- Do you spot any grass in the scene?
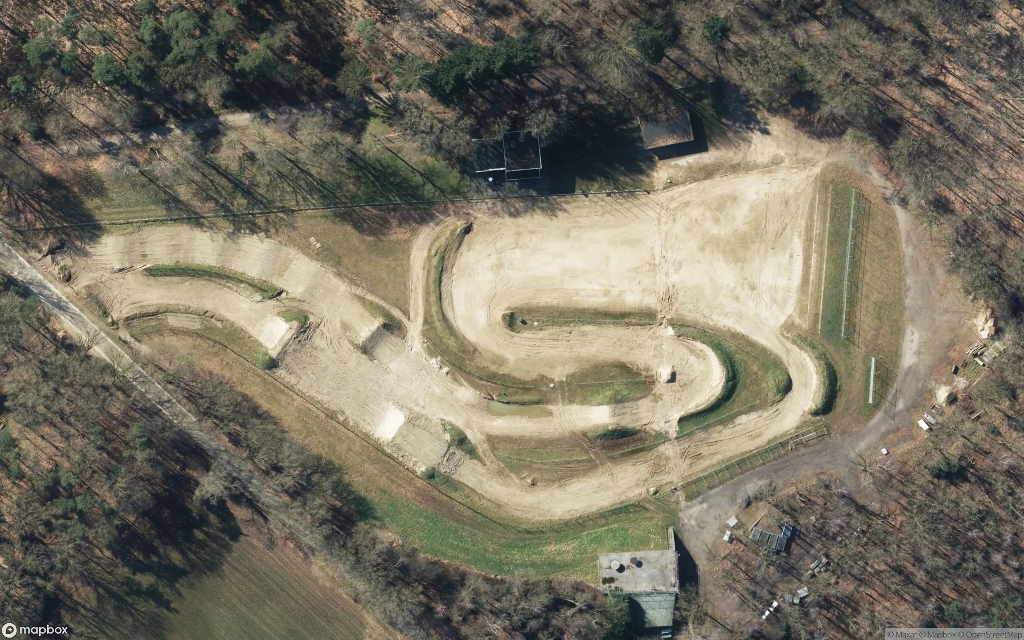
Yes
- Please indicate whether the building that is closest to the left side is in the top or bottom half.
top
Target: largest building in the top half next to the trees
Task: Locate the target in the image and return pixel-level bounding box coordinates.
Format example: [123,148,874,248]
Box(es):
[472,130,542,180]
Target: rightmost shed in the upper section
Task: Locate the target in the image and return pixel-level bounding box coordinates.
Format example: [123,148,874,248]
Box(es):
[639,106,694,149]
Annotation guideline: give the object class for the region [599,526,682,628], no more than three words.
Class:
building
